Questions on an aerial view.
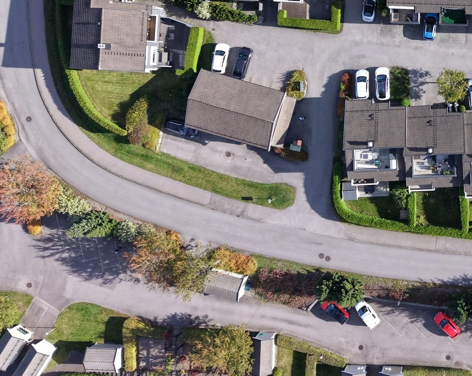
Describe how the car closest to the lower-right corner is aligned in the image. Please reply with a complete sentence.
I'd say the car closest to the lower-right corner is aligned diagonally in the picture.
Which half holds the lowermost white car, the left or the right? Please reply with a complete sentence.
The lowermost white car sits on the right side.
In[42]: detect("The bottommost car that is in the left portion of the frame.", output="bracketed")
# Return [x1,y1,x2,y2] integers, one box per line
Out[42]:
[165,119,195,138]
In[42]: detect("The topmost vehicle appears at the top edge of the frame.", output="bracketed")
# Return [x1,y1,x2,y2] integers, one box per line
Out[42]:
[362,0,377,21]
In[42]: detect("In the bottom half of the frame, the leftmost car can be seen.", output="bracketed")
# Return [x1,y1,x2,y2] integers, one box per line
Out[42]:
[322,301,349,325]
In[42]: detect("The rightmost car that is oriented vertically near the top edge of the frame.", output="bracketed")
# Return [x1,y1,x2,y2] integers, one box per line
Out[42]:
[423,15,439,41]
